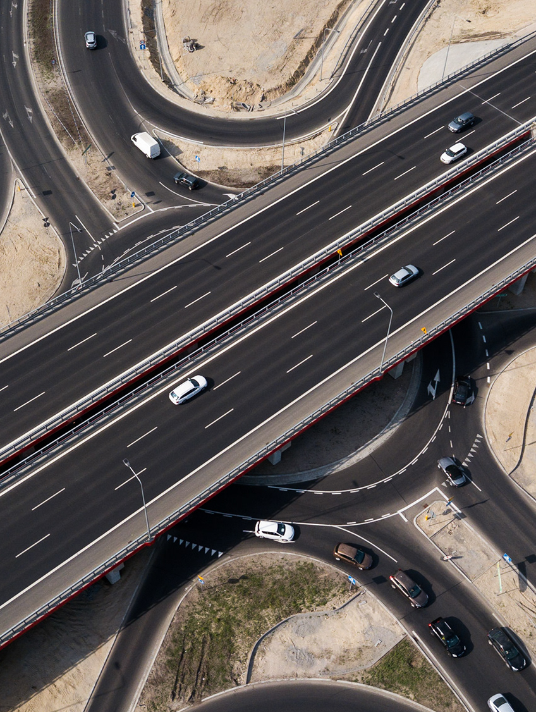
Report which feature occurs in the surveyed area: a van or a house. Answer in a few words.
van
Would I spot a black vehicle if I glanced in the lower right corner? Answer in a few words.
Yes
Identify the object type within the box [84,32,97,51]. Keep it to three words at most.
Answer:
vehicle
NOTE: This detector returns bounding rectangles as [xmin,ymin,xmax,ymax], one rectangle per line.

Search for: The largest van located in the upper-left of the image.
[129,131,161,160]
